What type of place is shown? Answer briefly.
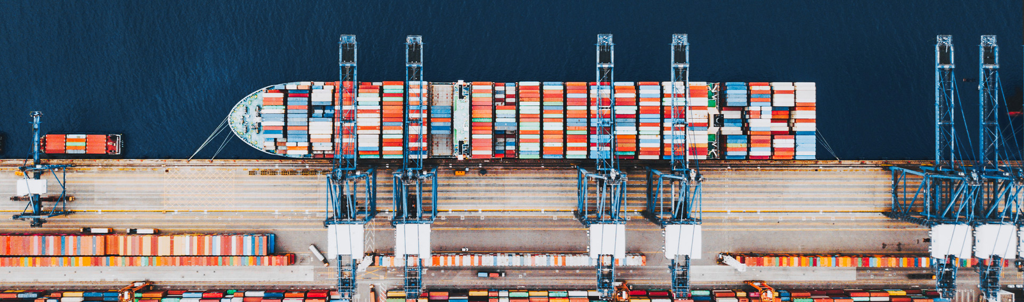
port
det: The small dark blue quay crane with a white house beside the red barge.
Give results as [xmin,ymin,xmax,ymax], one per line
[17,110,78,229]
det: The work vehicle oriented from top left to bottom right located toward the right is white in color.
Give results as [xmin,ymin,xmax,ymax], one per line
[716,255,748,277]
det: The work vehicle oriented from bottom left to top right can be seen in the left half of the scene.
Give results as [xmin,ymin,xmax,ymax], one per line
[358,251,377,275]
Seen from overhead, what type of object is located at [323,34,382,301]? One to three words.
container crane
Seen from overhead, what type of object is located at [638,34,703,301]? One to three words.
container crane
